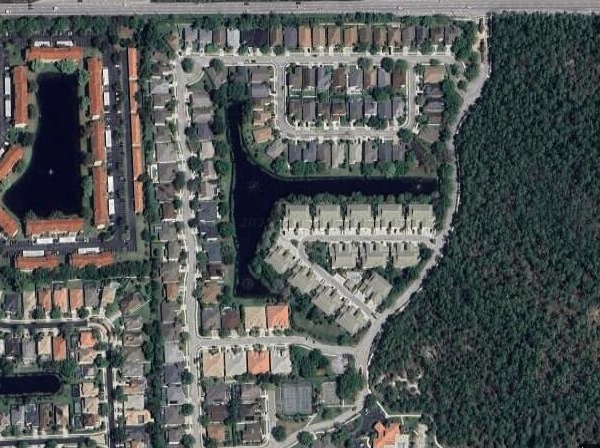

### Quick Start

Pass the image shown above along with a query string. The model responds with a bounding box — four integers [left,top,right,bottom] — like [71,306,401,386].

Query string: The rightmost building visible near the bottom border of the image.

[373,422,402,448]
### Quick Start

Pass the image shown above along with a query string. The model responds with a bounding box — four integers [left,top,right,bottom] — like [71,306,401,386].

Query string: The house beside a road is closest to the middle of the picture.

[282,204,313,230]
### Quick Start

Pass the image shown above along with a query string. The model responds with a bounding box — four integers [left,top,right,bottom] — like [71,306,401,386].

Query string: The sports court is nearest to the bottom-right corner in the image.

[322,380,339,405]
